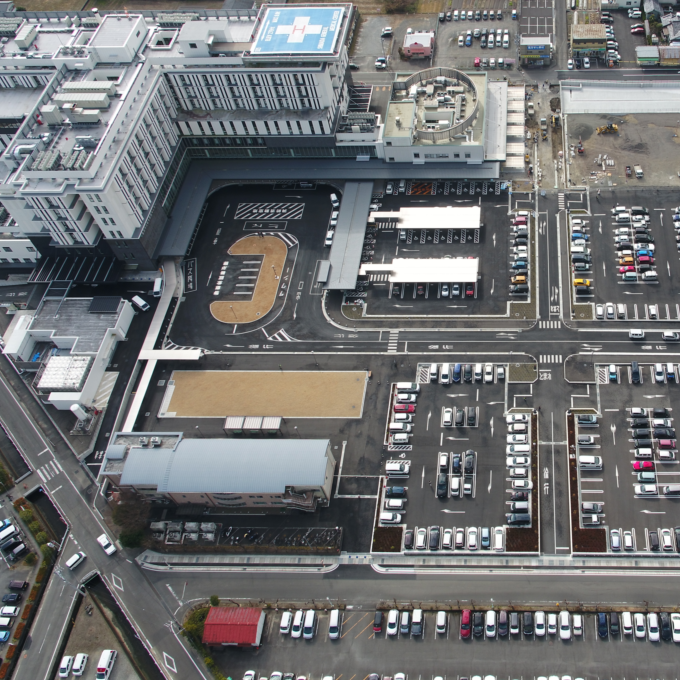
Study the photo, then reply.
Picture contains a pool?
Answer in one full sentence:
No, the frame has no pool in it.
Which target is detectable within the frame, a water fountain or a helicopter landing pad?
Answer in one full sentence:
This aerial view contains a helicopter landing pad.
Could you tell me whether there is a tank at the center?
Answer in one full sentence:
No, looking at the center, there is no tank.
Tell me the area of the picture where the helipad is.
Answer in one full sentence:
Look in the top portion of the view to spot the helipad.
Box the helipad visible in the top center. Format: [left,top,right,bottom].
[241,2,353,64]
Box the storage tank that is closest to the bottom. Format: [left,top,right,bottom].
[62,398,103,435]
